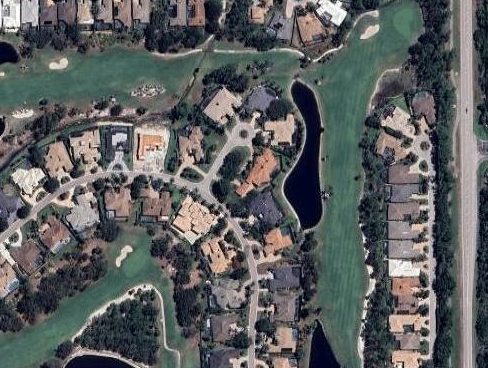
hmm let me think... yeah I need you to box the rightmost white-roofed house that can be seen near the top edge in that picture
[317,0,347,26]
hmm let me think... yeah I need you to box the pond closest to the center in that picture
[284,81,322,229]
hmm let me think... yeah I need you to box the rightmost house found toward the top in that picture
[413,92,437,122]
